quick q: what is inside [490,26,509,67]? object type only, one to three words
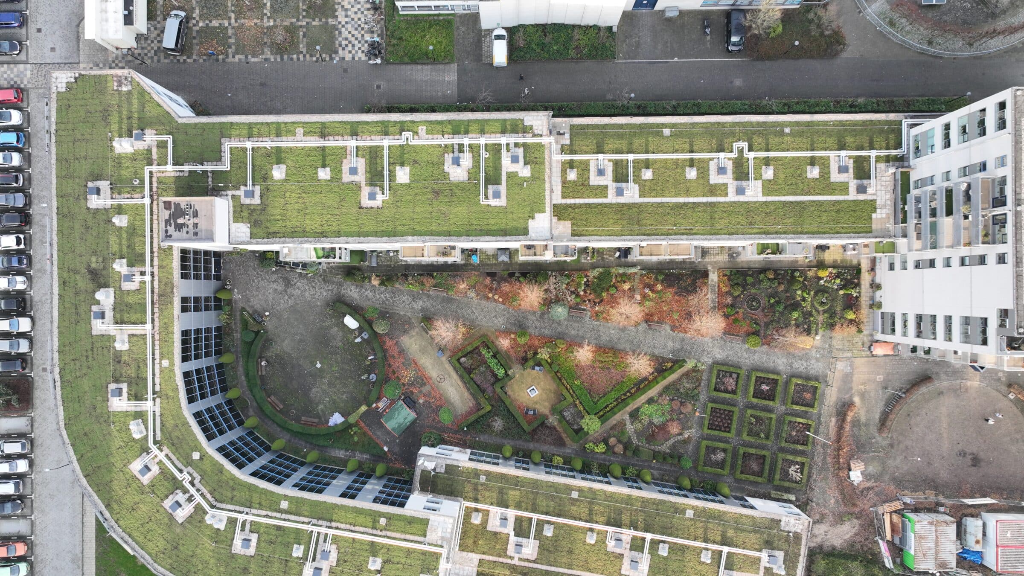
vehicle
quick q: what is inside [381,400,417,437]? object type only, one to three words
shed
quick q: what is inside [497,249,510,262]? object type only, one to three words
gazebo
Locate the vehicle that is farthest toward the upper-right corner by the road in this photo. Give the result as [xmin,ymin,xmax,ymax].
[726,7,748,53]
